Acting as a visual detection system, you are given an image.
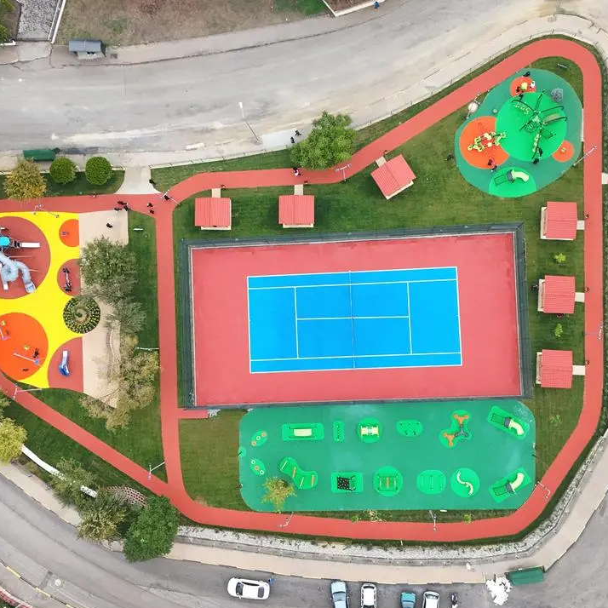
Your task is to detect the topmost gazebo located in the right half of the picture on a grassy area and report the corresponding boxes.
[375,153,422,201]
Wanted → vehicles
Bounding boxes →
[399,589,418,608]
[423,590,440,608]
[361,582,377,608]
[332,579,351,608]
[228,577,272,599]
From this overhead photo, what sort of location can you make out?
sports ground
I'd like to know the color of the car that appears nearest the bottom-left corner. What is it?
white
